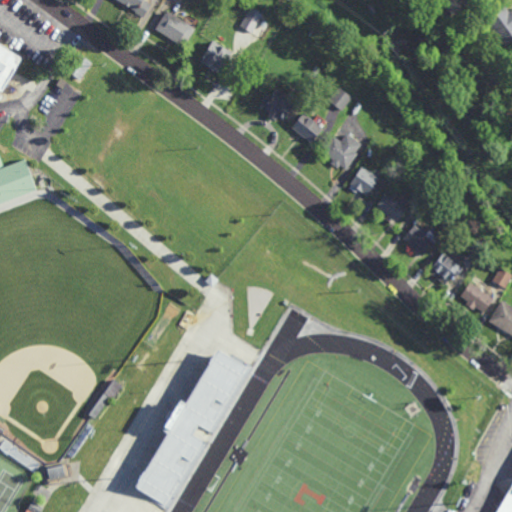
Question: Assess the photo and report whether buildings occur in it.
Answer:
Yes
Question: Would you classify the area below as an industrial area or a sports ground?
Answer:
sports ground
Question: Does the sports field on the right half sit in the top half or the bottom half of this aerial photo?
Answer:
bottom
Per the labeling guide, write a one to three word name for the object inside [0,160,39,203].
building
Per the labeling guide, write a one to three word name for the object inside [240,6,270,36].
house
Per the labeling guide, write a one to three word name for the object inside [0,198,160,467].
baseball field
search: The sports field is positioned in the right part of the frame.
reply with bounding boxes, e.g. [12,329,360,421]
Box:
[193,352,436,512]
